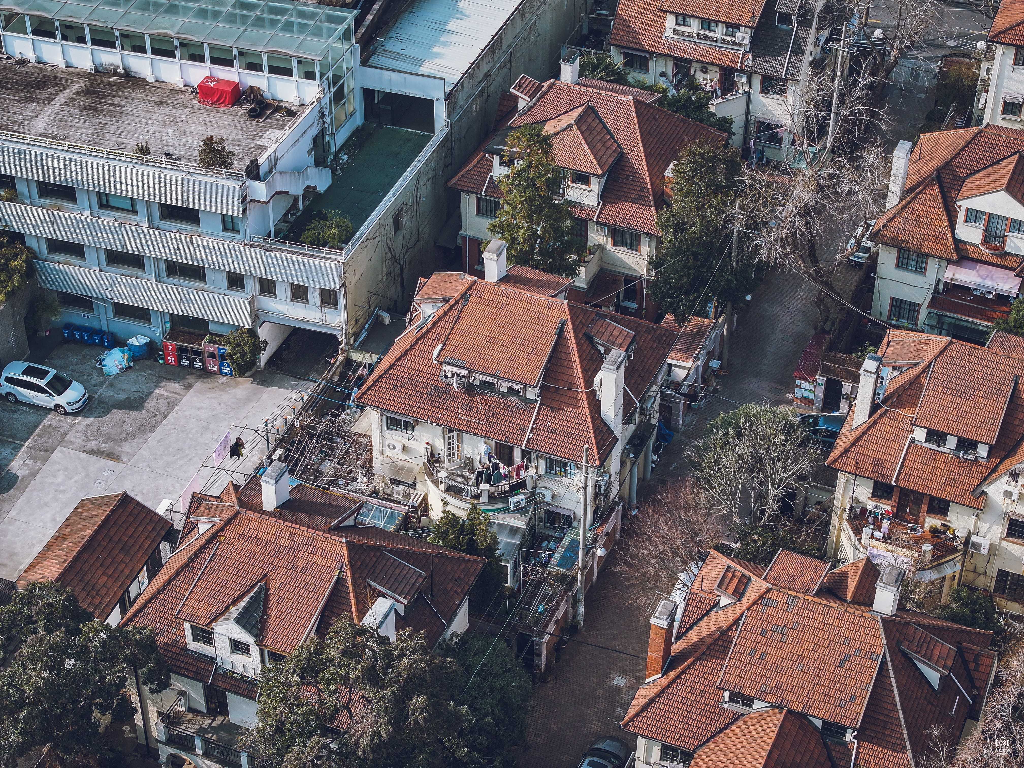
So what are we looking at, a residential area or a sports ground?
residential area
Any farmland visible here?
No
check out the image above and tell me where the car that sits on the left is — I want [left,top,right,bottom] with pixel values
[2,358,92,417]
